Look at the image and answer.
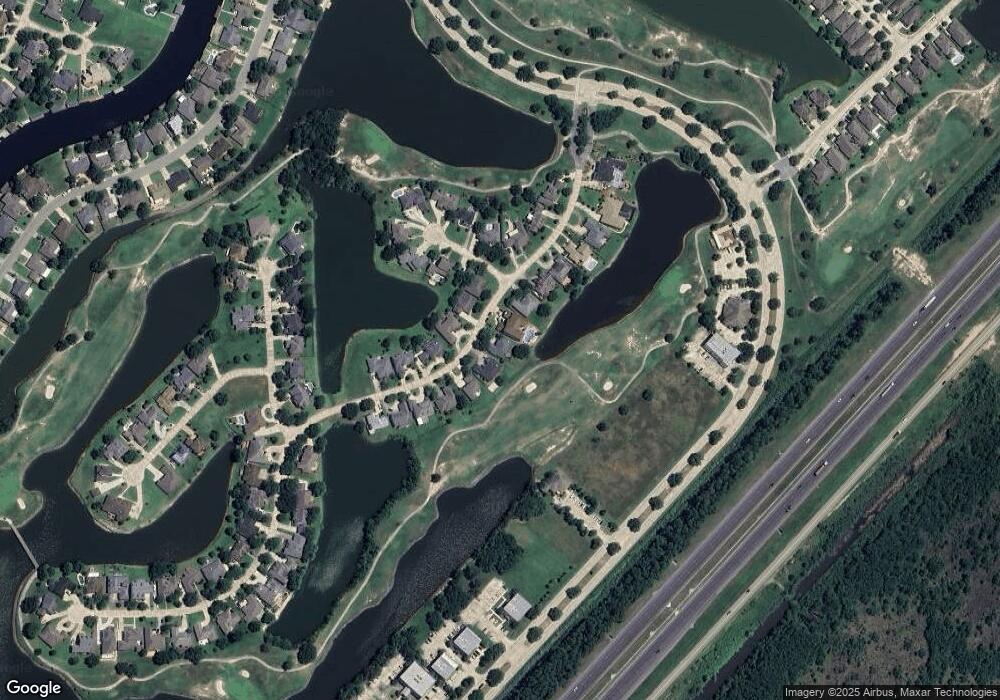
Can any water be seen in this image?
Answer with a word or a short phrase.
Yes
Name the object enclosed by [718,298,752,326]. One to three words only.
building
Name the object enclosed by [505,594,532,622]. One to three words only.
building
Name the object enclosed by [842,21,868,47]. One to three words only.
house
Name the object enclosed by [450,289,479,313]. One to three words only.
house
